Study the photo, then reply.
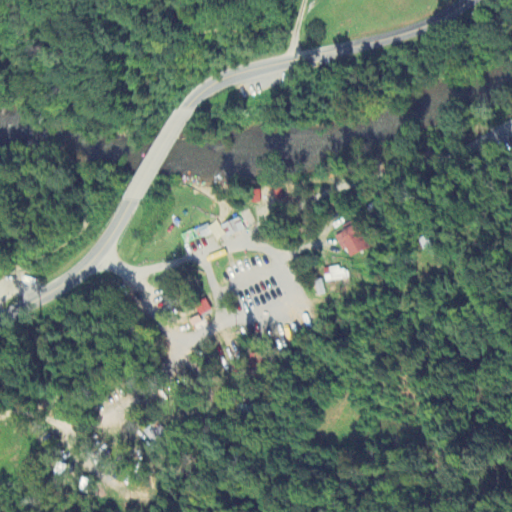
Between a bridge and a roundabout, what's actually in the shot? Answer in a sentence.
Looking from above, you can make out a bridge.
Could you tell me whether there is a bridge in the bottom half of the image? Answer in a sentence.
No, no bridge is visible in the bottom half of the image.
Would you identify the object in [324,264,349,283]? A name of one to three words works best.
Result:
house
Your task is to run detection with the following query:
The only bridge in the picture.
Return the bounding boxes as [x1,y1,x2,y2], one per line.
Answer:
[124,105,192,198]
